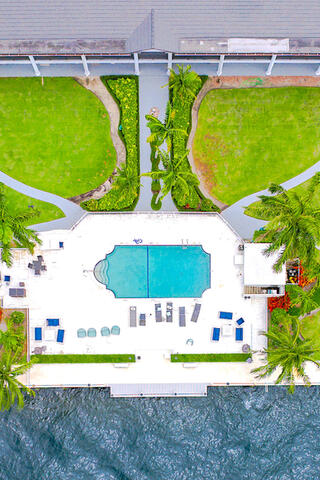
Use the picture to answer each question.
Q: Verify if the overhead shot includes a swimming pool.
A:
Yes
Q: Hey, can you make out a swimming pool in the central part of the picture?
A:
Yes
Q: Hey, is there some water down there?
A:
Yes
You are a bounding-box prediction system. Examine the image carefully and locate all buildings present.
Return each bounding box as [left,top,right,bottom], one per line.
[243,242,286,296]
[0,0,320,76]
